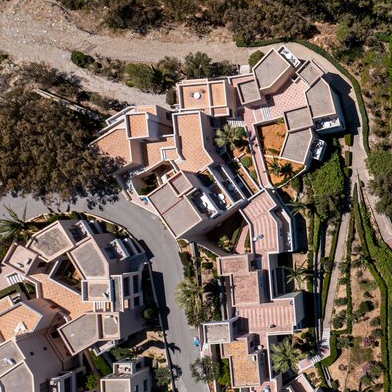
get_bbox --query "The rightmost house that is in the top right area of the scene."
[228,45,344,166]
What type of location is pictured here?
residential area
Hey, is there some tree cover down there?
Yes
